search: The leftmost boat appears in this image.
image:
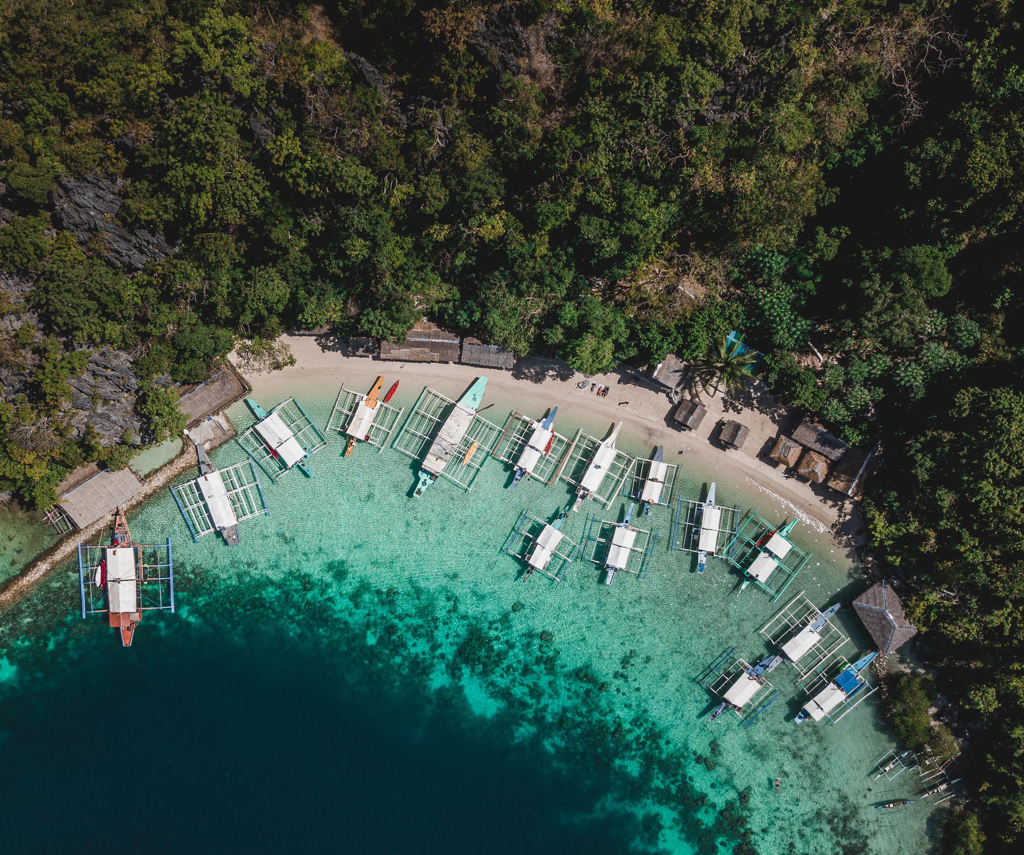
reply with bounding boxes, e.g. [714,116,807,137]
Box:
[42,507,72,539]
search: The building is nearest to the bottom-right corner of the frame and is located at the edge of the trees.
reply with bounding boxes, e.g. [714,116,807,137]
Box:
[839,579,918,655]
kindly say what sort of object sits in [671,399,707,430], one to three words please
house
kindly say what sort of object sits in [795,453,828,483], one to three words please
shed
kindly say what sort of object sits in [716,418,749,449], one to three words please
house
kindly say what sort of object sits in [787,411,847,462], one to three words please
shed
